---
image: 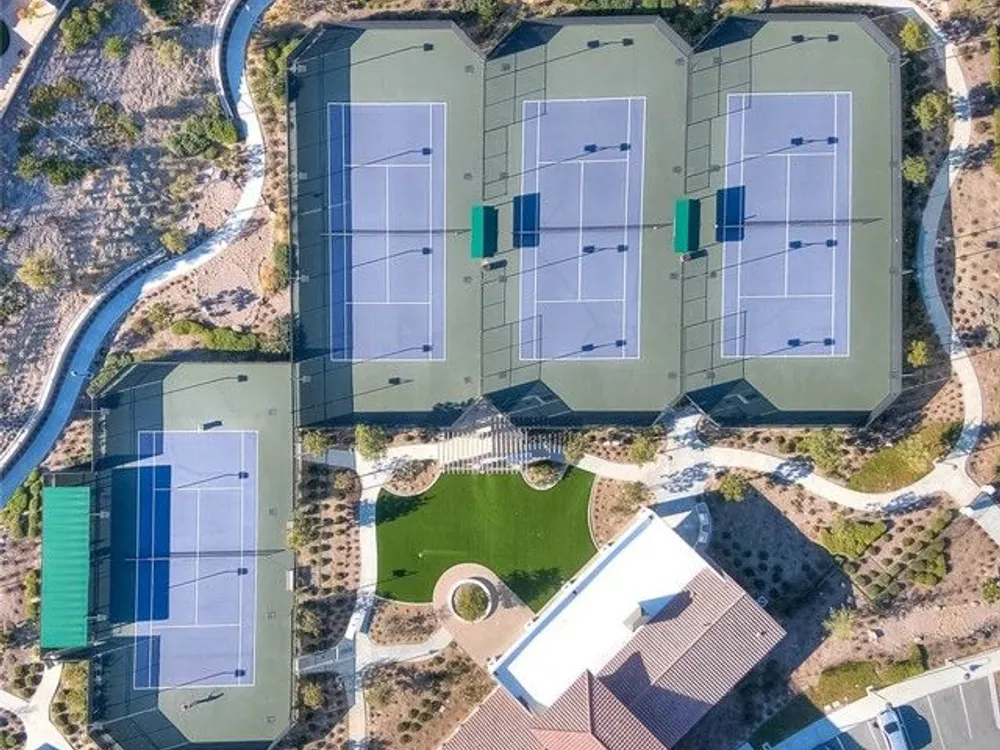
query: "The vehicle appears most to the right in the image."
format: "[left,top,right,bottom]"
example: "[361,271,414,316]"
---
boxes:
[875,708,906,750]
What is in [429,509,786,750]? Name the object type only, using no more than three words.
building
